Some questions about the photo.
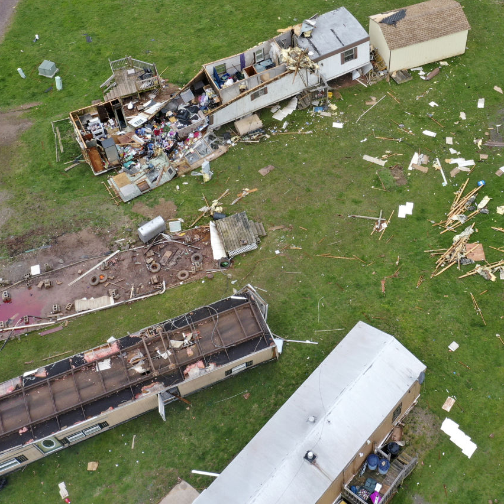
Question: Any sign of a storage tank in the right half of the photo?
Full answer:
No, in the right half of the photo there is no storage tank.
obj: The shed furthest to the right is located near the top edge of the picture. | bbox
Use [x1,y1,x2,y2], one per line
[373,0,470,72]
